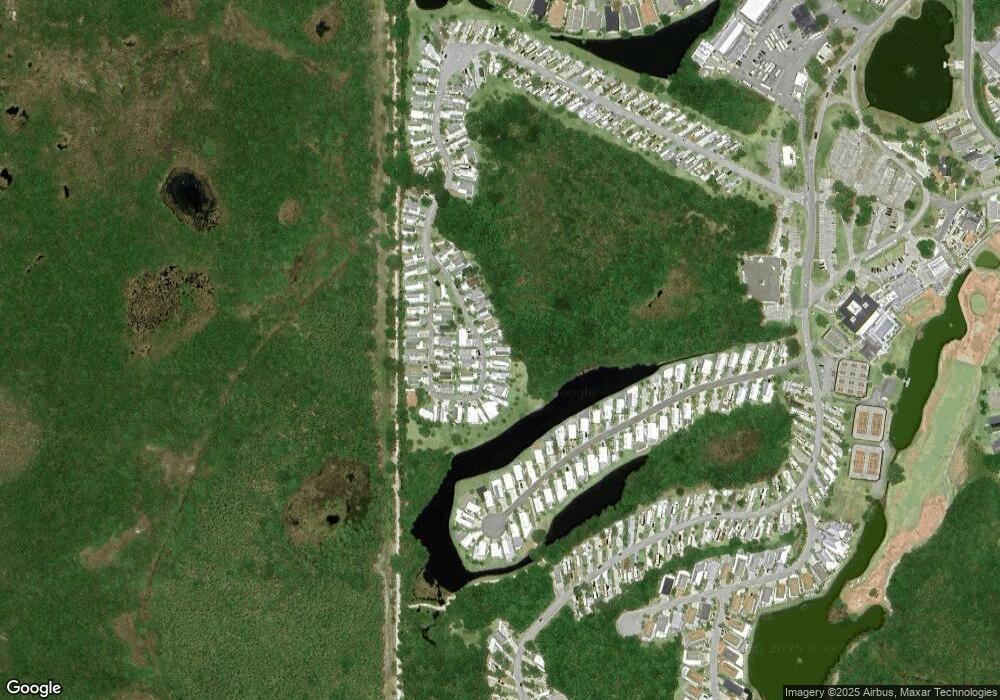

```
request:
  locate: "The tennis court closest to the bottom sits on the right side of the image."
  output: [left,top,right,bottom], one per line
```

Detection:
[850,444,883,480]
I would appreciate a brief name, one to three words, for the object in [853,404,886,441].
tennis court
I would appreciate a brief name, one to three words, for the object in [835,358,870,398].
sports court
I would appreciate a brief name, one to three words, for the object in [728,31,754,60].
shed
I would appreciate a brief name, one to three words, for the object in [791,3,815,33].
building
